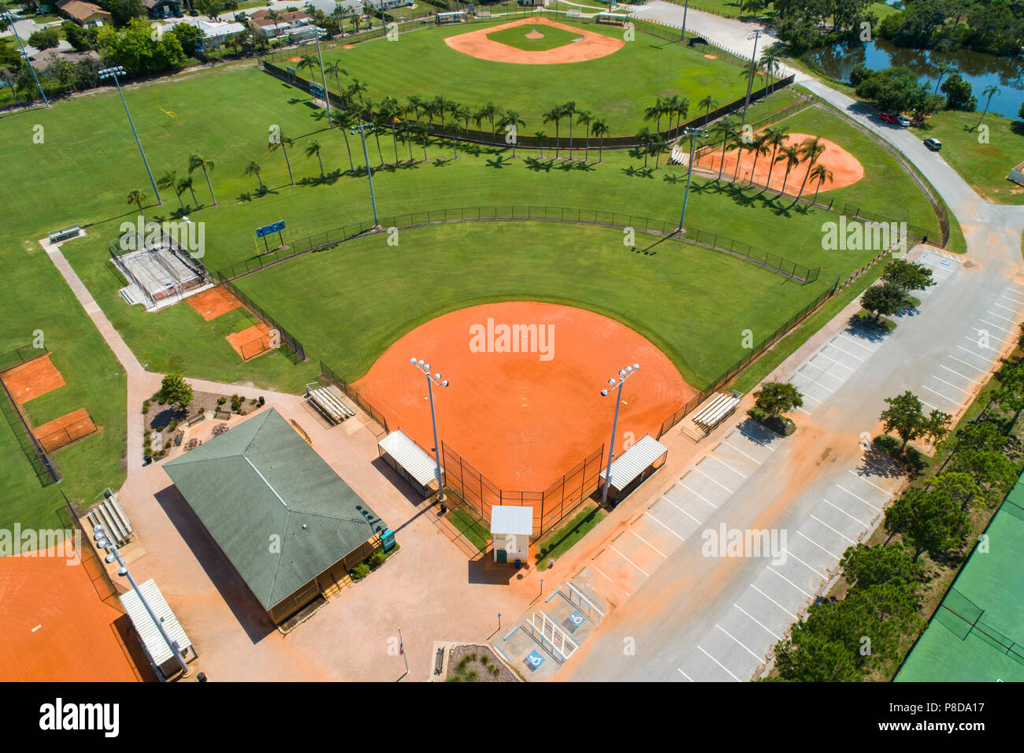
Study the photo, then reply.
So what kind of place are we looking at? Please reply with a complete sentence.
The area seen from above is a sports ground.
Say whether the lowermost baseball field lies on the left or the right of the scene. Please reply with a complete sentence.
It is on the left.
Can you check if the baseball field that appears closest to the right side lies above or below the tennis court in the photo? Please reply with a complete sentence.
From this view, the baseball field that appears closest to the right side can be seen above the tennis court.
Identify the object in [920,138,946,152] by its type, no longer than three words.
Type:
car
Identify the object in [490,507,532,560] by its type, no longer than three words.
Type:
building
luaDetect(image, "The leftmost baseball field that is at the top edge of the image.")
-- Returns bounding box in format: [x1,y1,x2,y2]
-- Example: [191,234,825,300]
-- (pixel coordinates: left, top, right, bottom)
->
[270,17,792,149]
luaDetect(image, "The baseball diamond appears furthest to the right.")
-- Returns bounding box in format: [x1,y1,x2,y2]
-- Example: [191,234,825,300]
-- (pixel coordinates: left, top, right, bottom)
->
[695,103,946,246]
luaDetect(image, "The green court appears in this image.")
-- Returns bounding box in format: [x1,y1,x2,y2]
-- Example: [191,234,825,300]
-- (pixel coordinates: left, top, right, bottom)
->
[852,472,1024,753]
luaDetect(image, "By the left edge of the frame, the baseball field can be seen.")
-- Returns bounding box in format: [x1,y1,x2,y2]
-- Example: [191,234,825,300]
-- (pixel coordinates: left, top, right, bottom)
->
[0,520,188,753]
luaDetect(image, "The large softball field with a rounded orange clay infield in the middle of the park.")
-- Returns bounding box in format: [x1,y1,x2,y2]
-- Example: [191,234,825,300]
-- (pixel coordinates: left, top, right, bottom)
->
[225,220,833,535]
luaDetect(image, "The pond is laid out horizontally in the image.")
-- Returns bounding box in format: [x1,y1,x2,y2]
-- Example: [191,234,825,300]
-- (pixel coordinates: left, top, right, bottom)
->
[797,36,1024,122]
